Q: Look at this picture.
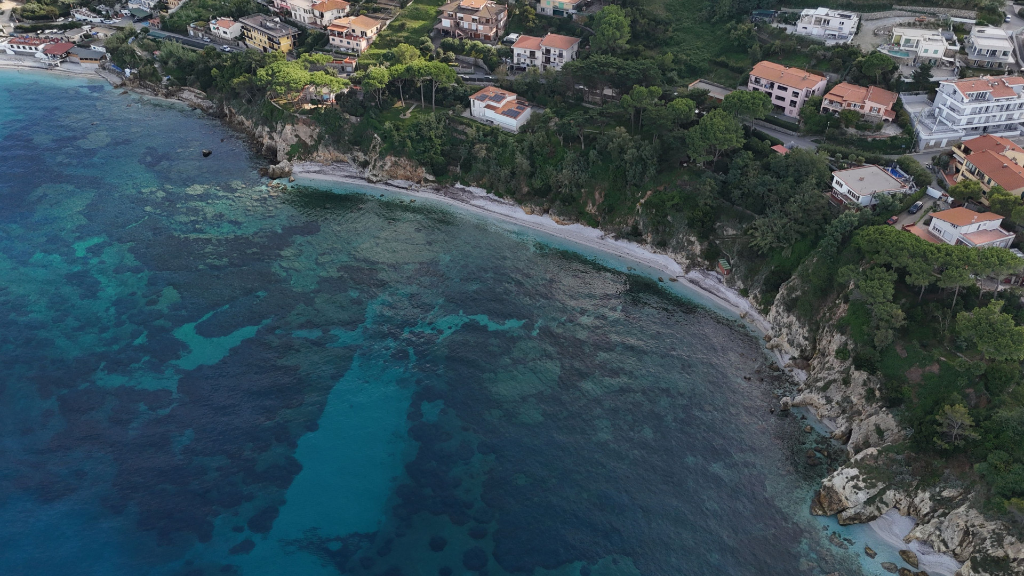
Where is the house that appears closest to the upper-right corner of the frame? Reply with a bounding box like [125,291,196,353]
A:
[969,23,1014,68]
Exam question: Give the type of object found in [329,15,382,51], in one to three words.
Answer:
house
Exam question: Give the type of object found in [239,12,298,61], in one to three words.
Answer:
building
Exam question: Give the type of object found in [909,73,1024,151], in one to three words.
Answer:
building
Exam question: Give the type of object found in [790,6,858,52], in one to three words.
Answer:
house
